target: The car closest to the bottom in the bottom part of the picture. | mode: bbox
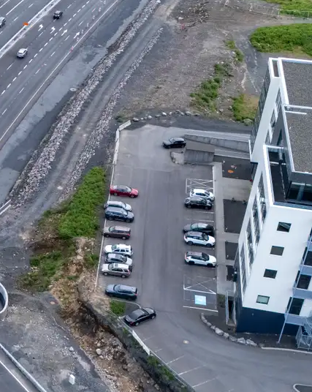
[122,309,157,326]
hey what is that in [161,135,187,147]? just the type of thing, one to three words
vehicle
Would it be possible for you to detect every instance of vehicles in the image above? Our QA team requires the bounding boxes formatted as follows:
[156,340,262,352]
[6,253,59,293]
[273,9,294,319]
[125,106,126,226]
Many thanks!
[105,282,138,299]
[104,241,134,257]
[104,251,133,266]
[16,48,27,58]
[190,186,215,200]
[101,261,131,277]
[104,198,133,213]
[0,15,6,27]
[161,135,187,147]
[184,193,213,209]
[185,230,215,247]
[184,222,214,237]
[111,185,138,199]
[102,226,133,240]
[185,250,216,267]
[106,207,134,223]
[122,309,157,326]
